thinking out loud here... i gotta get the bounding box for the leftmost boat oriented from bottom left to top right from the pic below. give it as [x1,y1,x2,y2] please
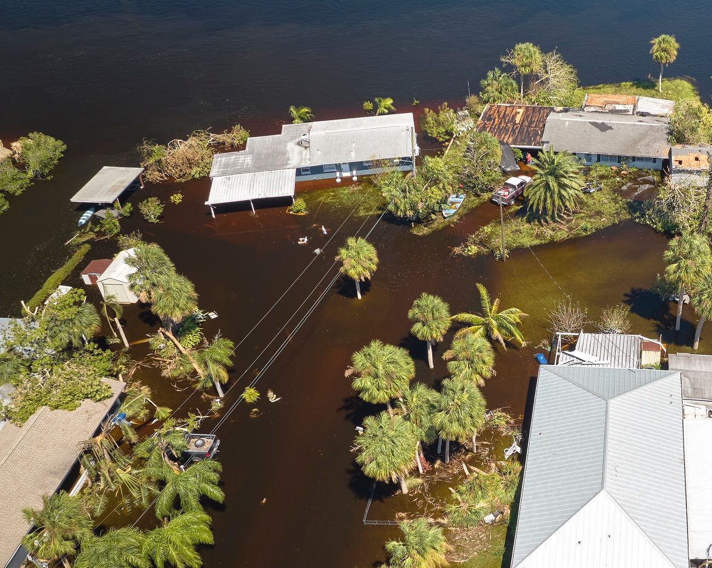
[77,207,95,226]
